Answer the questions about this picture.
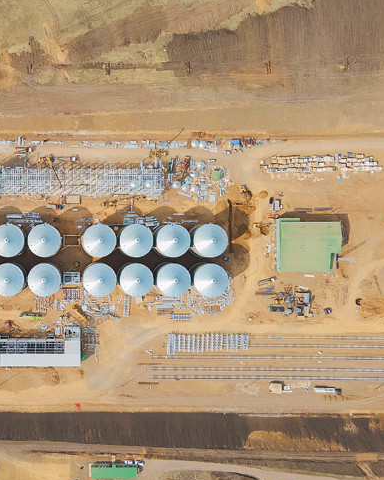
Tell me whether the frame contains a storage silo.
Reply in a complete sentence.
Yes, I can see a storage silo in this picture.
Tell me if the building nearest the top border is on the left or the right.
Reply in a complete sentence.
You can find the building nearest the top border on the left side of the picture.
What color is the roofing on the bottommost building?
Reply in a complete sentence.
The roof over the bottommost building appears green.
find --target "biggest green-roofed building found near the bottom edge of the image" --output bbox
[90,455,137,479]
